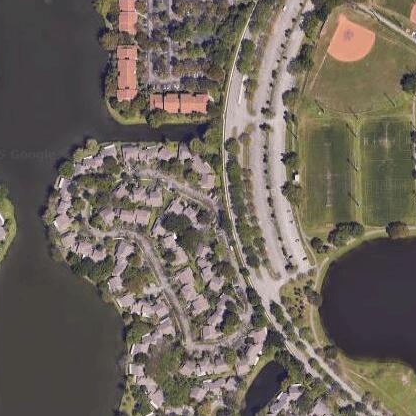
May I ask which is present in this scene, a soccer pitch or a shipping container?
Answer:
soccer pitch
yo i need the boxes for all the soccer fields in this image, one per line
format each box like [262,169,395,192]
[306,120,352,228]
[360,119,416,227]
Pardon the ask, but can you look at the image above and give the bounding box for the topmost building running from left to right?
[149,92,209,115]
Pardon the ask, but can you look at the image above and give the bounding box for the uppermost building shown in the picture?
[118,0,139,33]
